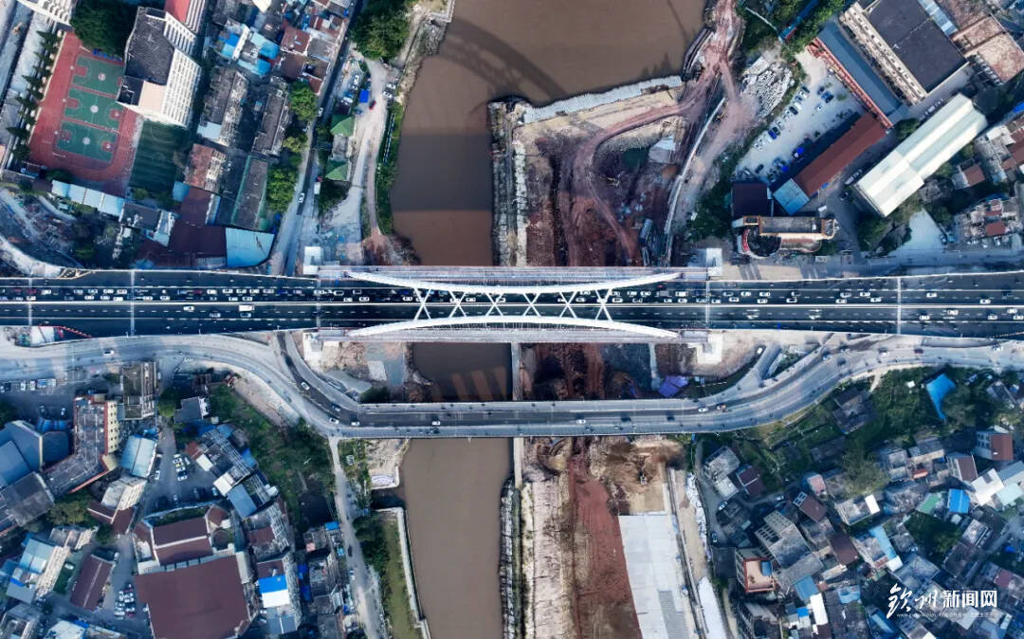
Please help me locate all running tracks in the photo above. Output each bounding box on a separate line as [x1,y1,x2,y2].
[27,31,142,195]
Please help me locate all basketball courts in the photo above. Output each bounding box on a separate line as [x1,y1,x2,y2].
[72,55,128,94]
[63,88,126,133]
[55,122,120,162]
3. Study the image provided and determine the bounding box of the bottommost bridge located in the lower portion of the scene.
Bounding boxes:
[358,402,676,437]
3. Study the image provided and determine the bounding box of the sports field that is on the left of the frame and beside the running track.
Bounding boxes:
[130,115,189,195]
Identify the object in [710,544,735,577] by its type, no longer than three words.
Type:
shed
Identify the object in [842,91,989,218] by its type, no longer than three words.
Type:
warehouse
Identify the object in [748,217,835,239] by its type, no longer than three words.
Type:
building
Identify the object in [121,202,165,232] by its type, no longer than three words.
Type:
house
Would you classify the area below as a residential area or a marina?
residential area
